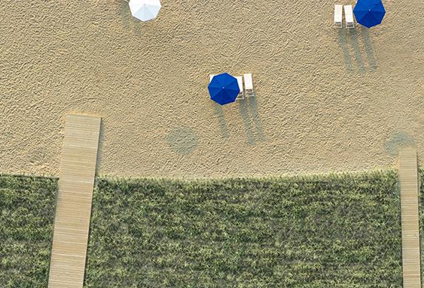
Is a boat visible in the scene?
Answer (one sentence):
No, there is no boat in the image.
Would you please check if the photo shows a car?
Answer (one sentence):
No, there appears to be no car in this shot.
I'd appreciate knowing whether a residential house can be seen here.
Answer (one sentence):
No, no residential house is visible in the view.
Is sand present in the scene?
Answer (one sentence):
Yes, there is sand in the image.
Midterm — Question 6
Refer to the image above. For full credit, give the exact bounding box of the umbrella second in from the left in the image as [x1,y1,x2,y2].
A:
[208,73,240,105]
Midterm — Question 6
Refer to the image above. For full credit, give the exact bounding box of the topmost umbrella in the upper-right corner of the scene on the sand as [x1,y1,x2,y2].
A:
[353,0,385,28]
